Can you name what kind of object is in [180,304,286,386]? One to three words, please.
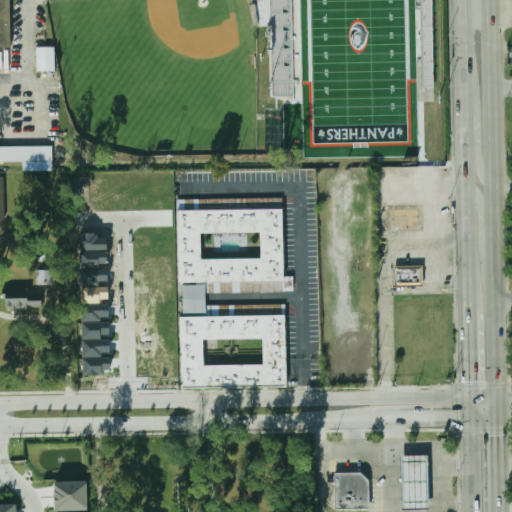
building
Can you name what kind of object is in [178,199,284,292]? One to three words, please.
building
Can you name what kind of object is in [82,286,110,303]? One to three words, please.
house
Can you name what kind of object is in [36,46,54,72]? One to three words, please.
shed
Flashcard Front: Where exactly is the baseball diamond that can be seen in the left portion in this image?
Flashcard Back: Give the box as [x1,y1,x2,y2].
[47,0,257,156]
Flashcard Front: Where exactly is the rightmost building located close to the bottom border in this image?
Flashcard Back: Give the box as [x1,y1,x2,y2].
[335,472,369,510]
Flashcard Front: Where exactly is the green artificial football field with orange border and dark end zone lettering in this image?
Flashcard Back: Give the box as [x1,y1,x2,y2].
[302,0,416,157]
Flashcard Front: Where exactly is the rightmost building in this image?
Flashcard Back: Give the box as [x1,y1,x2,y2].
[396,266,422,286]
